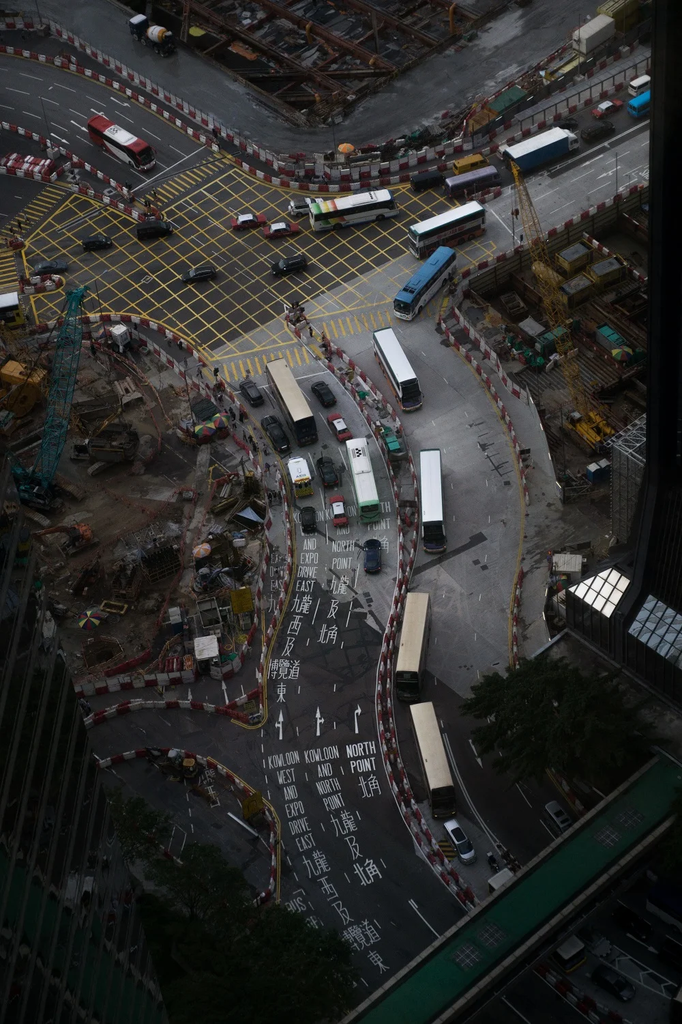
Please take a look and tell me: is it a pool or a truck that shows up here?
truck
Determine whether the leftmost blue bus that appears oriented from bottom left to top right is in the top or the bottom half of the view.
top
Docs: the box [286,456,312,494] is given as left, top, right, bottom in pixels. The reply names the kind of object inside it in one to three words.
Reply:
vehicle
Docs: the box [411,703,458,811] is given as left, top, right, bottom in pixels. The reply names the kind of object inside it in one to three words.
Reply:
bus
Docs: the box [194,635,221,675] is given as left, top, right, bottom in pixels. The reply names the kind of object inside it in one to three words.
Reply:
building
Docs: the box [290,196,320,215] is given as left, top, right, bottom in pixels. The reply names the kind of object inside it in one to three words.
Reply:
car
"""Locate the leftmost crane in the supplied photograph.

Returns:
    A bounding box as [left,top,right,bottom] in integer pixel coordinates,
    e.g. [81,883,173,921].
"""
[10,286,121,516]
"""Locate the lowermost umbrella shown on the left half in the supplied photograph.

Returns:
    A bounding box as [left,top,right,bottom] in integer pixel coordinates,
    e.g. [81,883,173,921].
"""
[78,612,101,632]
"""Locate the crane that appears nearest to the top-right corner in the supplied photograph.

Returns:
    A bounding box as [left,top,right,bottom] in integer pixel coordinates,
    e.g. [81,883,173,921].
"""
[508,160,632,460]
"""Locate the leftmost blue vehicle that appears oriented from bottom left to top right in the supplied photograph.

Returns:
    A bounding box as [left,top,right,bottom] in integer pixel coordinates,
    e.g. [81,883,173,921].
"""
[392,247,457,317]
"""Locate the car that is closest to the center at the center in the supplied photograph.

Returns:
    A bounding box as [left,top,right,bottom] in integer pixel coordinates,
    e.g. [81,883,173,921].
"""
[328,497,347,526]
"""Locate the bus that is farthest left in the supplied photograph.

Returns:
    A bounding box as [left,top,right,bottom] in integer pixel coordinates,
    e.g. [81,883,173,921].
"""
[0,289,31,327]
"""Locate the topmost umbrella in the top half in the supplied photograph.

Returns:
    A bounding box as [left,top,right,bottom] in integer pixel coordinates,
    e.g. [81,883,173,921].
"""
[338,143,355,159]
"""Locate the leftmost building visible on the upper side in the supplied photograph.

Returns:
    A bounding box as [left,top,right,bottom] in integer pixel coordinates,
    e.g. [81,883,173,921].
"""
[109,324,130,349]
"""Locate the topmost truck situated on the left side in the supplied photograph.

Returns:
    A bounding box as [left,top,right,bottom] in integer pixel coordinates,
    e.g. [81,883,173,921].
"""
[130,14,177,55]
